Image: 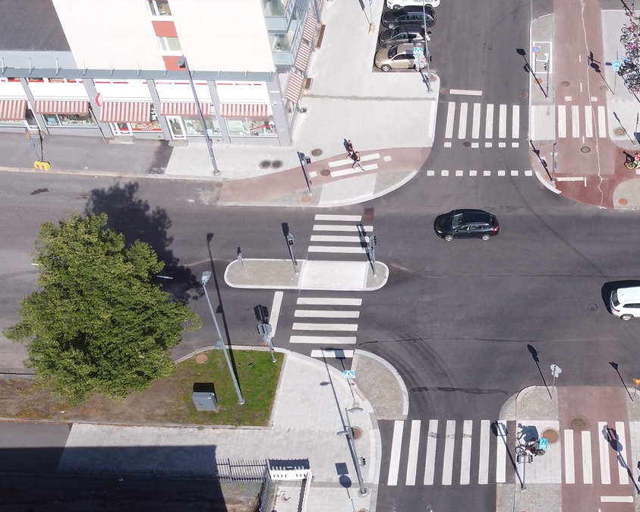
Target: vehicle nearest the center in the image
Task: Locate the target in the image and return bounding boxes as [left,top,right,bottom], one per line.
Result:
[434,208,501,240]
